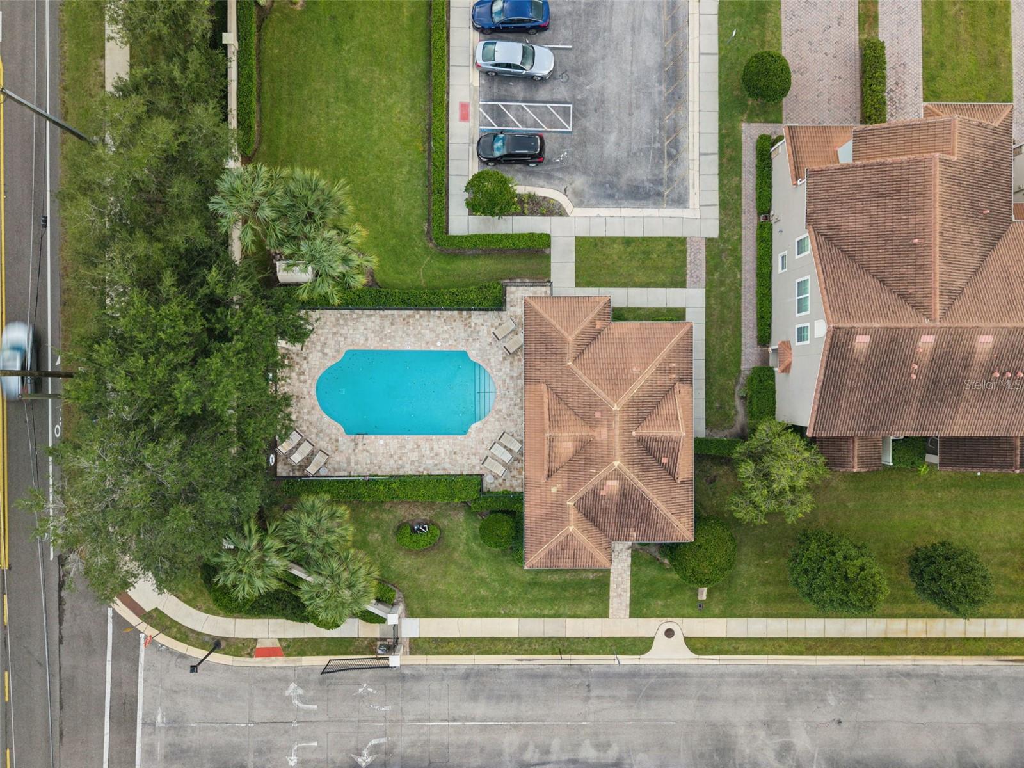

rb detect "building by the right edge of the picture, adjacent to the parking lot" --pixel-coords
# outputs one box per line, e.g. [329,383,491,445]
[767,101,1024,476]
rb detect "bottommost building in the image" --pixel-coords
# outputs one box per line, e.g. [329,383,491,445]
[522,294,696,570]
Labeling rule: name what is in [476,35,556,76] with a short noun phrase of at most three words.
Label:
car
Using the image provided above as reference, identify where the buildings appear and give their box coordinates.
[767,101,1024,476]
[522,294,696,570]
